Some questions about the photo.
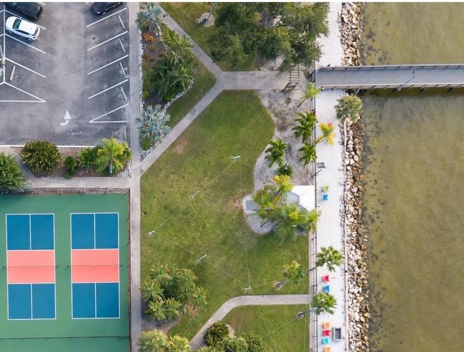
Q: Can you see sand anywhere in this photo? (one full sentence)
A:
Yes, there is sand in the image.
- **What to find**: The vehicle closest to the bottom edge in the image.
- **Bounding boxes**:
[5,14,40,39]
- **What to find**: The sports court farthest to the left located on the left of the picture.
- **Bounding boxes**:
[3,213,59,320]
